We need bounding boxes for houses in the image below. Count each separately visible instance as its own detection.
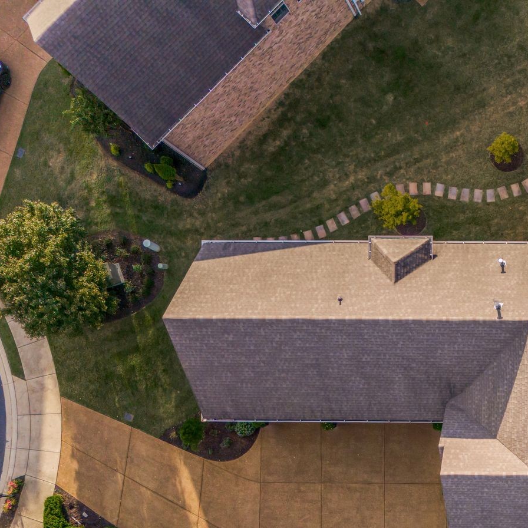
[167,233,528,528]
[22,0,371,167]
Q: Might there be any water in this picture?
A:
No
